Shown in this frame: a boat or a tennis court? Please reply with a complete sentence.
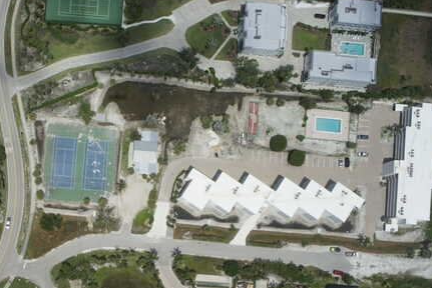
It is a tennis court that can be seen here.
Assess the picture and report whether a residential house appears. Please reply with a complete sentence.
Yes, the photo shows a residential house.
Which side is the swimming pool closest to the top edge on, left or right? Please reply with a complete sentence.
The swimming pool closest to the top edge sits on the right side.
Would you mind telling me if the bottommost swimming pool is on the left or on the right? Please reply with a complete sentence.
The bottommost swimming pool sits on the right side.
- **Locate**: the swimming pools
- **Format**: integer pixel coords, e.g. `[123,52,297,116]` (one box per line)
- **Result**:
[332,32,377,58]
[306,110,348,140]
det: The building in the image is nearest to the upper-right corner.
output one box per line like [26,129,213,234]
[328,0,382,31]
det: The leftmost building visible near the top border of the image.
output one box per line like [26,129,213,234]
[239,2,286,57]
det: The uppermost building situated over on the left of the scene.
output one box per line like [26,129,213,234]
[129,130,159,174]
